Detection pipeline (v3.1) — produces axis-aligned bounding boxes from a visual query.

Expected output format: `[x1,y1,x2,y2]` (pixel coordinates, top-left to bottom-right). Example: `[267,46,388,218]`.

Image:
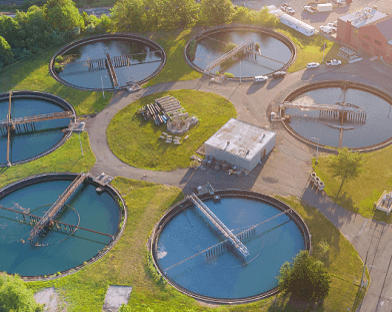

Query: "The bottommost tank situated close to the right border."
[274,80,392,153]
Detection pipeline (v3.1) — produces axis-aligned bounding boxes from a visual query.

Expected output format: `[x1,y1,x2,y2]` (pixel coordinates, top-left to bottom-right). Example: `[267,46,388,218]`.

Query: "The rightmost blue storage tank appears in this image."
[151,183,310,305]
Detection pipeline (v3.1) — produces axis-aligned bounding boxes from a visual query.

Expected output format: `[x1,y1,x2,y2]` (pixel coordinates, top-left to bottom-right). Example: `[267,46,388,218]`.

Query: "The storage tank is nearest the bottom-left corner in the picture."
[0,169,126,281]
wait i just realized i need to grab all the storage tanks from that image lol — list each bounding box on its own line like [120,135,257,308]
[50,33,165,92]
[151,183,310,305]
[0,169,126,281]
[185,25,296,82]
[274,80,392,153]
[0,91,82,168]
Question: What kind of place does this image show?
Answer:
industrial area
